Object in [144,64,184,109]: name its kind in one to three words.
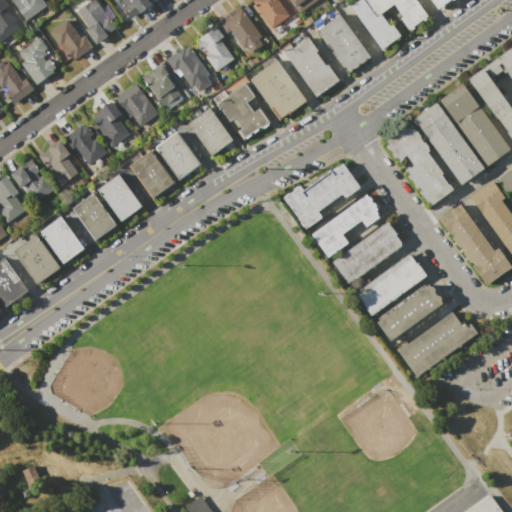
house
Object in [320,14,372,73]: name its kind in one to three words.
building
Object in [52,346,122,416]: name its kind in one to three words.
baseball field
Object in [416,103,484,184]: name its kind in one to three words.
building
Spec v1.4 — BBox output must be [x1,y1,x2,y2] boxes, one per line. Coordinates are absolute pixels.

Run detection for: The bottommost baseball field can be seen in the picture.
[232,476,298,512]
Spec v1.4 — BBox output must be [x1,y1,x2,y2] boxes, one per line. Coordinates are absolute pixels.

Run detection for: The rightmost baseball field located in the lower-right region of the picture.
[338,378,416,460]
